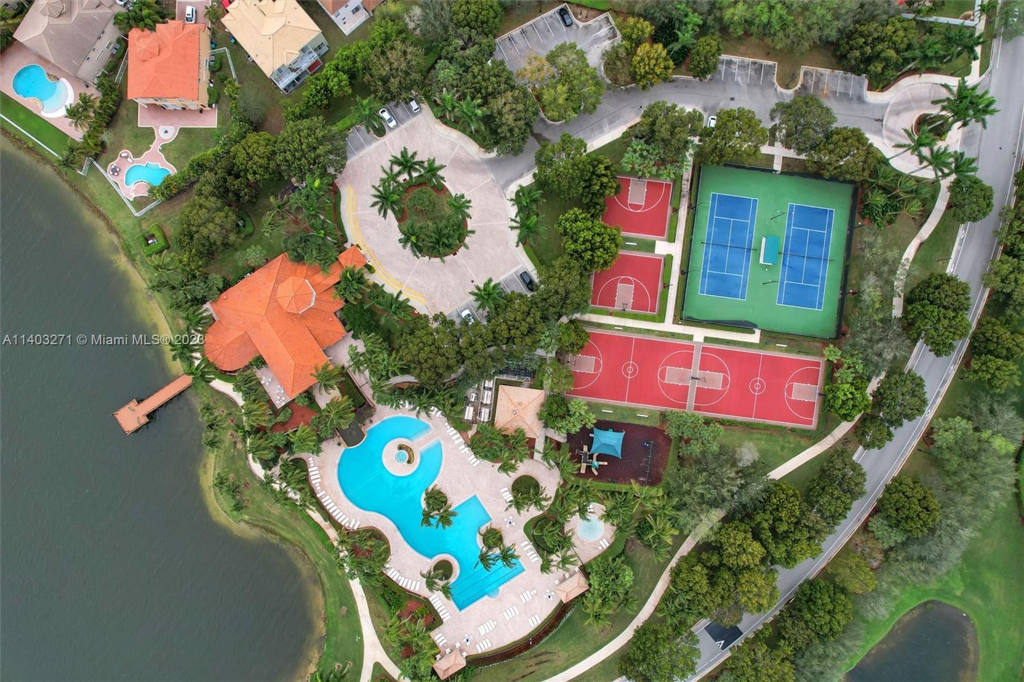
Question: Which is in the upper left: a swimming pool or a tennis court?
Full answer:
Looking in the upper left, you will find a swimming pool.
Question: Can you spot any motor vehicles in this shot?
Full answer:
Yes, a motor vehicle can be made out from above.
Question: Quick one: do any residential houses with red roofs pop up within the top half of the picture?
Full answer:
Yes, a residential house with a red roof appears within the top half of the picture.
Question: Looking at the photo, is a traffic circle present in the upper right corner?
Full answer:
Yes, a traffic circle appears in the upper right corner.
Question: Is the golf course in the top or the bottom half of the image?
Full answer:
Seen from above, the golf course lies in the bottom half of the view.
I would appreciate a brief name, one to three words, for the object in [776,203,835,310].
tennis court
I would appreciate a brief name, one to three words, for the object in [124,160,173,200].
swimming pool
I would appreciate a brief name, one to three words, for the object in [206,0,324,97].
house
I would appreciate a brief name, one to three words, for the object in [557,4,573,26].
car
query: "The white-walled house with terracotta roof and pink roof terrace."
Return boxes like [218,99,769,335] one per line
[318,0,383,35]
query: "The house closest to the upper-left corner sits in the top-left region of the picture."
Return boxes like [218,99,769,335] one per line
[12,0,133,80]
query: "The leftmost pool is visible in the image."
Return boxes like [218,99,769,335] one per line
[11,63,76,120]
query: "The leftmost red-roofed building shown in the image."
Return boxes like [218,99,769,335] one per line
[126,20,209,108]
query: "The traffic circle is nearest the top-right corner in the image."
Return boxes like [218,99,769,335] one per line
[866,69,993,186]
